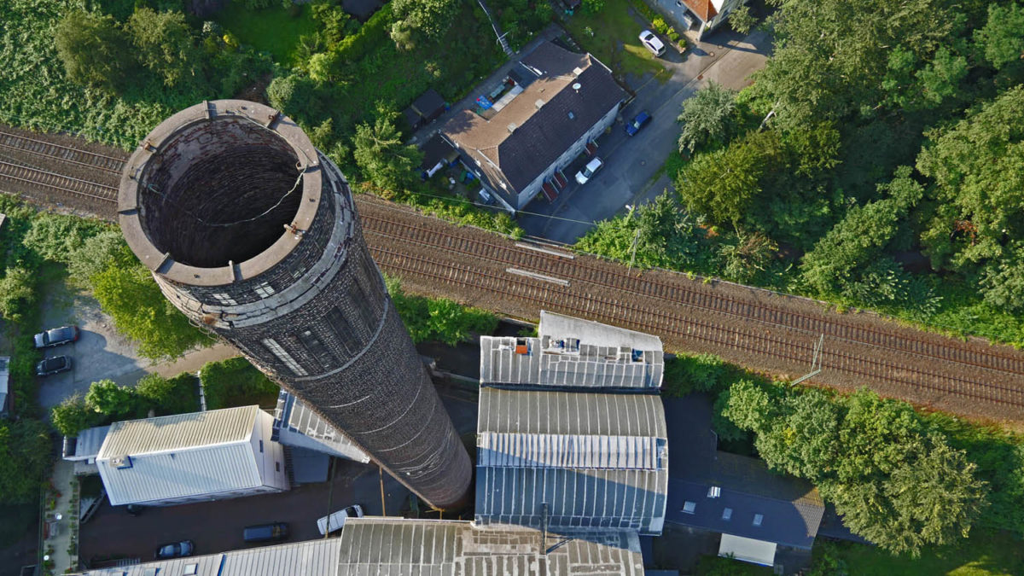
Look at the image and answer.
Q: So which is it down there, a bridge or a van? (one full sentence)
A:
Looking from above, you can make out a van.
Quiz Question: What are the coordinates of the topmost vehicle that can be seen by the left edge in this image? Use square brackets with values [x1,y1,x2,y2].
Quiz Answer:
[33,321,78,349]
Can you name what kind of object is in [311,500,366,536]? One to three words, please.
van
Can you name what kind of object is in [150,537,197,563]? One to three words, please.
car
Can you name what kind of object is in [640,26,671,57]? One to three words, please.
car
